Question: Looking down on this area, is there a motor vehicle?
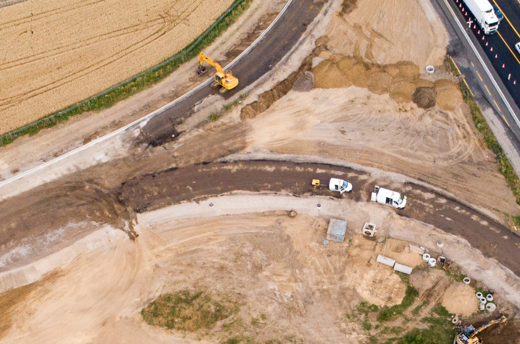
Yes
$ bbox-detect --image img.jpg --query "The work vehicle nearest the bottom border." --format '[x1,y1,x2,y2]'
[452,313,509,344]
